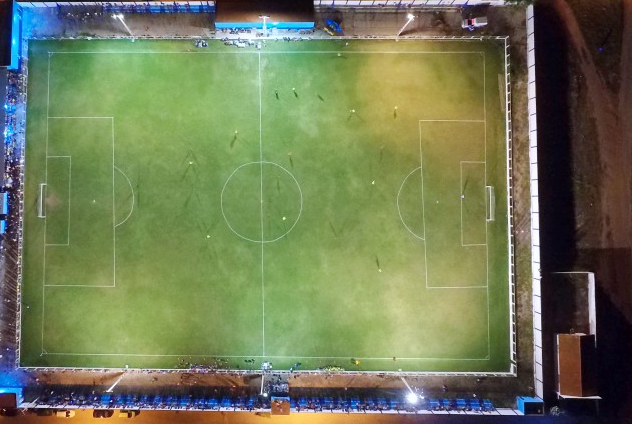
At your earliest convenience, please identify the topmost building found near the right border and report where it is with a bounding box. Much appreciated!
[548,330,602,401]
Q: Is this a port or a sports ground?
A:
sports ground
